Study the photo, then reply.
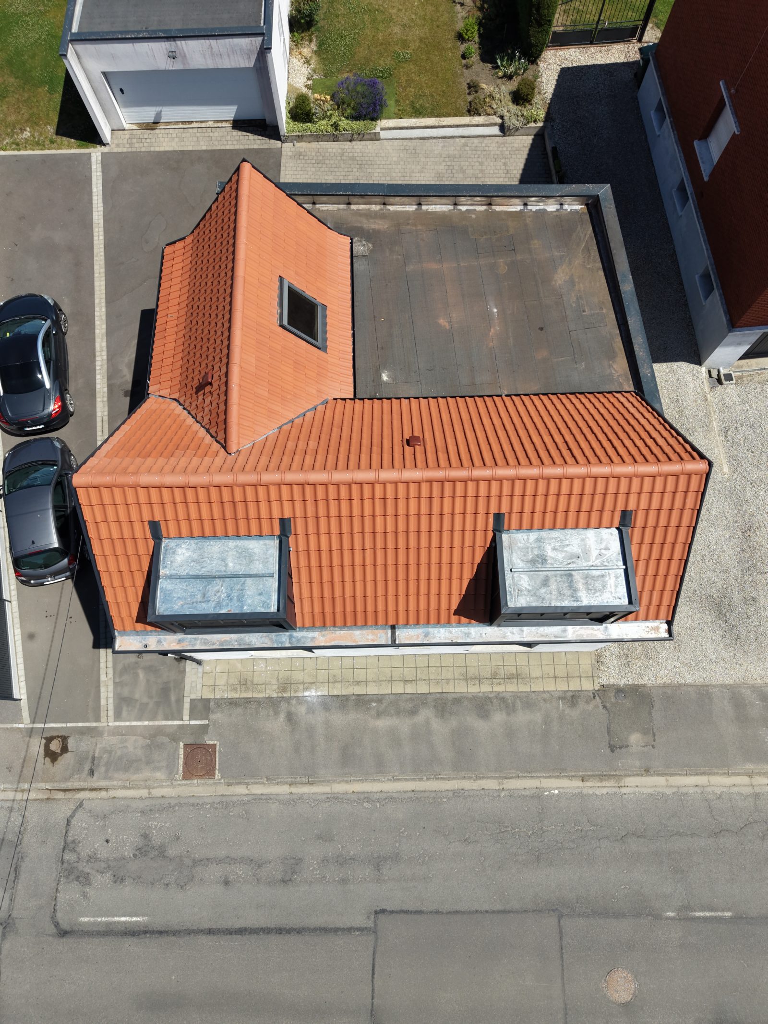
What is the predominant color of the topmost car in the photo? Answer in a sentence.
From above, the topmost car appears black.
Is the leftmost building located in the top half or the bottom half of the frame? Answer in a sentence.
The top half of the photo is where the leftmost building is.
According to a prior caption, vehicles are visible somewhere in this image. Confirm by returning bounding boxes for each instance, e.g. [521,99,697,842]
[0,295,78,436]
[0,437,90,589]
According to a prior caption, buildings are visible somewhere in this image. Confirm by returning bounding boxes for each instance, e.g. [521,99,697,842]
[638,0,768,367]
[68,154,716,665]
[61,0,284,146]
